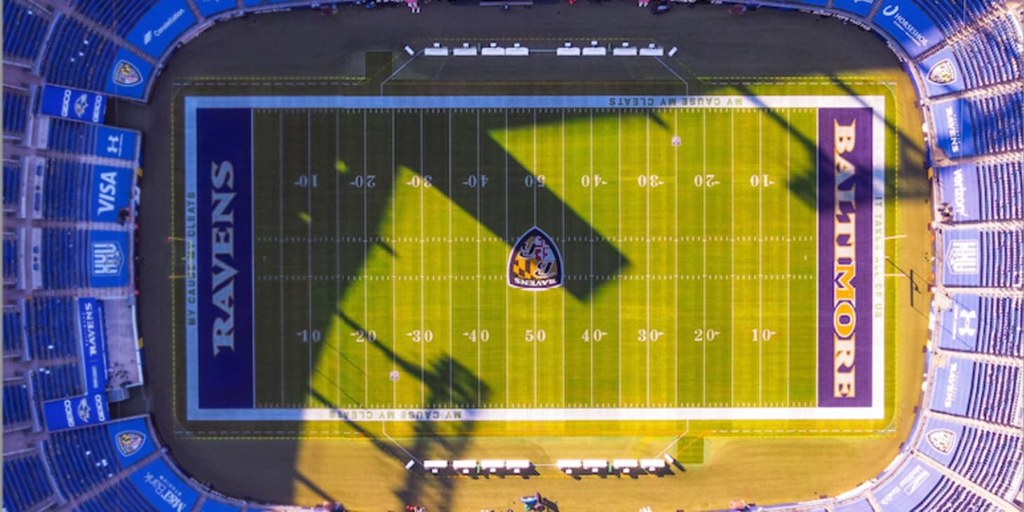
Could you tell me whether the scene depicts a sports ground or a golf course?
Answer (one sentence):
This looks like a sports ground.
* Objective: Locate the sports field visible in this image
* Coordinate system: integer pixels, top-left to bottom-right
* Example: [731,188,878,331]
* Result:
[173,38,898,478]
